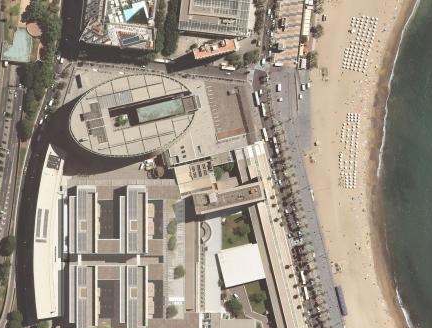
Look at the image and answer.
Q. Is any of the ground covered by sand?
Yes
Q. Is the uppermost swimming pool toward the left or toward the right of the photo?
left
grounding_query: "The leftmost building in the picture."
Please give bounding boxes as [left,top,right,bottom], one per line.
[34,138,68,320]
